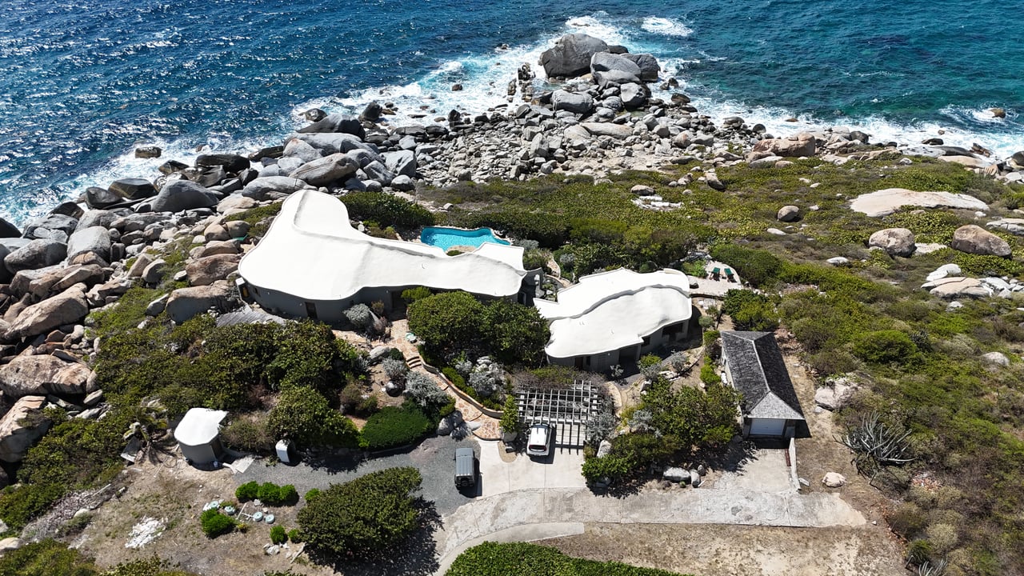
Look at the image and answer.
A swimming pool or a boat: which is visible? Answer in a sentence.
Visible in the photo is a swimming pool.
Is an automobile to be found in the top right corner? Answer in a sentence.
No, looking in the top right corner, there is no automobile.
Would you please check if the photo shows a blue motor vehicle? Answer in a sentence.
No, there's no blue motor vehicle here.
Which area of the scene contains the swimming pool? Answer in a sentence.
The swimming pool sits in the center section of the image.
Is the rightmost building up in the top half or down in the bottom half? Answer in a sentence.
You can find the rightmost building in the bottom half.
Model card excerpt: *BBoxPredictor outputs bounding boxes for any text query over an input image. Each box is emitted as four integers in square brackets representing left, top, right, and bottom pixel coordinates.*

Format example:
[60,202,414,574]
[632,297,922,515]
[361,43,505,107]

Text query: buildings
[722,331,805,434]
[175,408,230,466]
[239,191,525,326]
[534,260,692,380]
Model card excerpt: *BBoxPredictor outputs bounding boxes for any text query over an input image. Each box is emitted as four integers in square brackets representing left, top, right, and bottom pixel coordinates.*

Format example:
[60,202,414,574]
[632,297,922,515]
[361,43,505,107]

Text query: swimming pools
[417,224,514,256]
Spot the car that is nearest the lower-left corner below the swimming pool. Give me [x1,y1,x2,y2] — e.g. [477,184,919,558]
[452,446,478,487]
